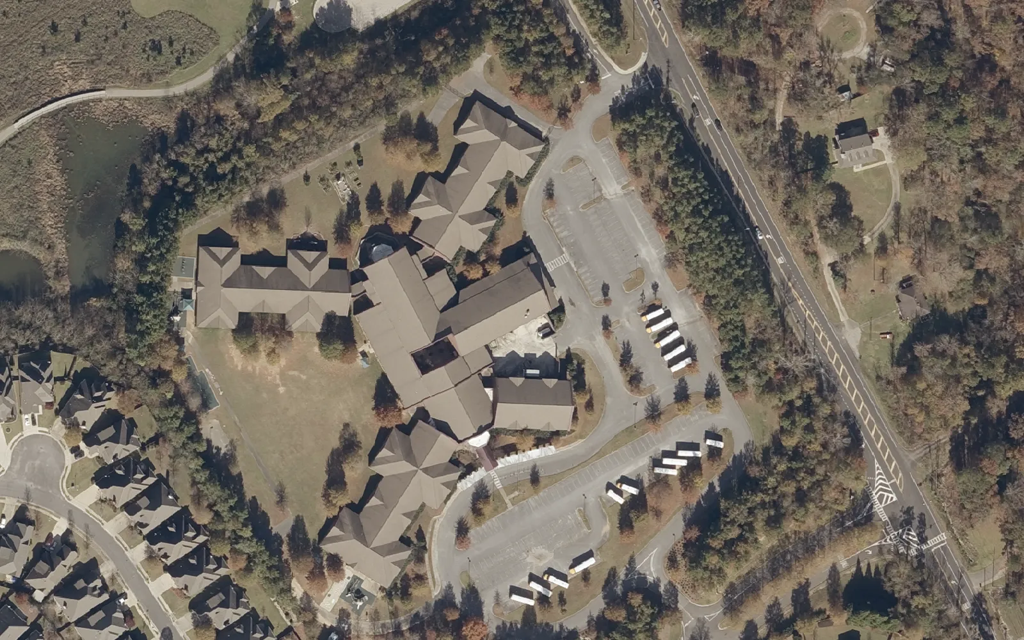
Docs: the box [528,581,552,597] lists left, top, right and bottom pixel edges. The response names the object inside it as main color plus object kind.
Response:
white vehicle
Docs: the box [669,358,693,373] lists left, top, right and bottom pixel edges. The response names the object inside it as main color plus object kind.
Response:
white vehicle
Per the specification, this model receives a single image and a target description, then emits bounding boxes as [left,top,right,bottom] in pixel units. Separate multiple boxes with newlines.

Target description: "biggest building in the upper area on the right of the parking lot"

[836,129,878,170]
